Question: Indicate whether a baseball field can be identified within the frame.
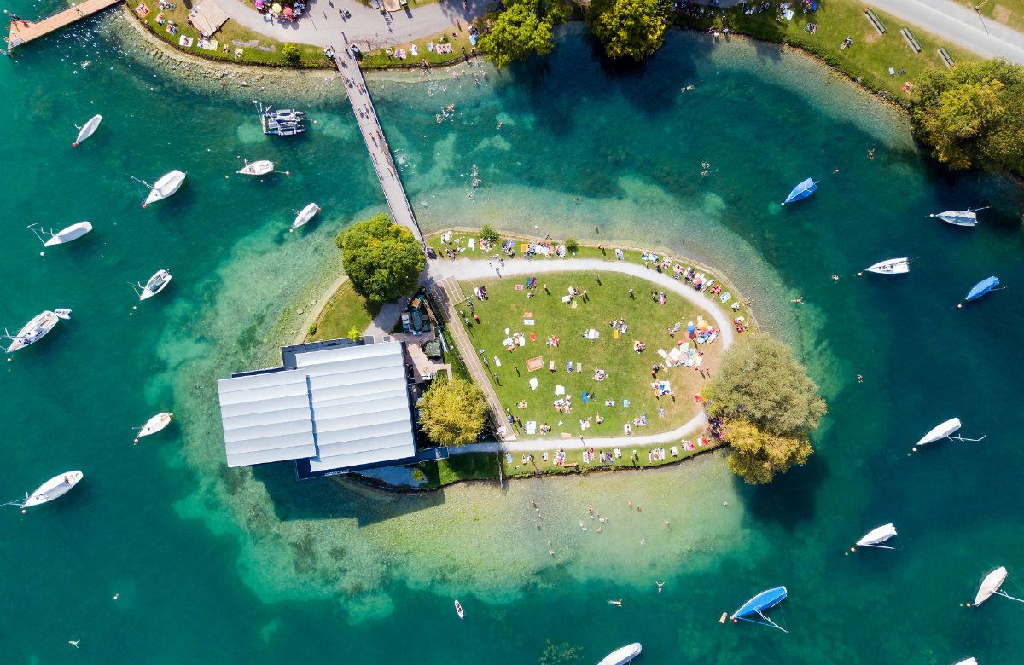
No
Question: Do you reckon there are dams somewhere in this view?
No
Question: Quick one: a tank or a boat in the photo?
boat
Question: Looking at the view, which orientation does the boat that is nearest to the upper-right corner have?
from side to side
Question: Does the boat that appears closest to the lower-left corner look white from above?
Yes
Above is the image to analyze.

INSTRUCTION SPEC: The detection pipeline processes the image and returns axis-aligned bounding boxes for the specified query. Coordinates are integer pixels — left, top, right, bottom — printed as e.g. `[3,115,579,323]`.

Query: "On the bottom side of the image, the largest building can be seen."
[218,334,448,481]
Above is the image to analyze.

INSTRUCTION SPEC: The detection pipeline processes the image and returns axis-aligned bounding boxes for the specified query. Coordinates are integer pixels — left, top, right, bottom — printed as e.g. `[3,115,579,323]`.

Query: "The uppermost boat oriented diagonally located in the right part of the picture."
[784,178,820,204]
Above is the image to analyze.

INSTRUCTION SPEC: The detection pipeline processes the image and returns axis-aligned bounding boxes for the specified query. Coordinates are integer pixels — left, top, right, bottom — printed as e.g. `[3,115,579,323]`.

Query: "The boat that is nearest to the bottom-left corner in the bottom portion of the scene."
[1,469,88,510]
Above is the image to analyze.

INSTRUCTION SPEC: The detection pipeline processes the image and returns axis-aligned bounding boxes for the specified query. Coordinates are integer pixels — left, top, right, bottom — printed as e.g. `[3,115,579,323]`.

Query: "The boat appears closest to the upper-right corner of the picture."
[935,200,991,226]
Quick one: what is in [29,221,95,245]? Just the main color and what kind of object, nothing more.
white boat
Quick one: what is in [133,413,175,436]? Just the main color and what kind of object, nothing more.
white boat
